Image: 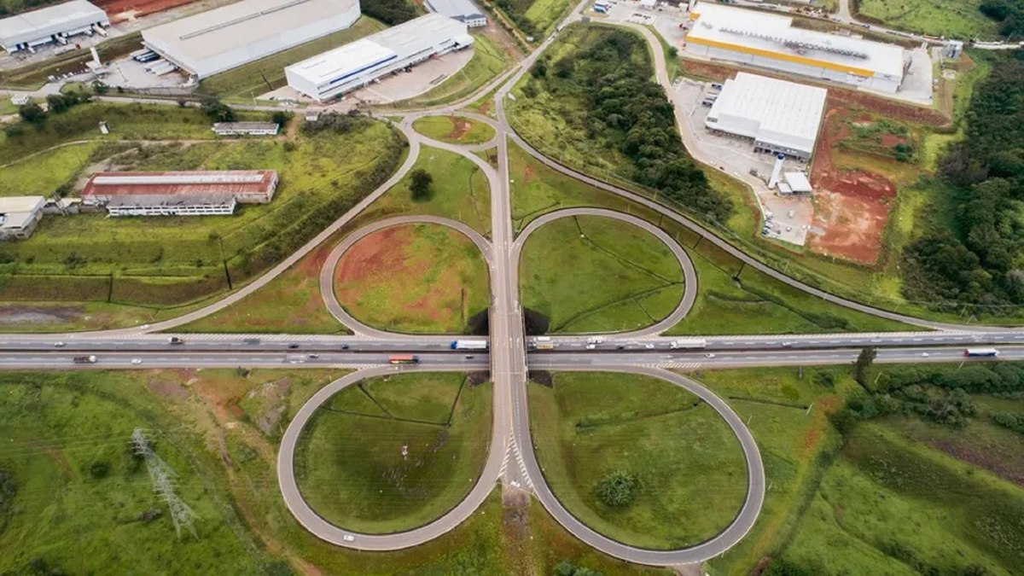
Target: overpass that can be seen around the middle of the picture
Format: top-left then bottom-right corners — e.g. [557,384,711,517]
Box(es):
[489,301,529,384]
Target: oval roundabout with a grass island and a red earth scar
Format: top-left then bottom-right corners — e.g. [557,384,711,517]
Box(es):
[402,111,497,149]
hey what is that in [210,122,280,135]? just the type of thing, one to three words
house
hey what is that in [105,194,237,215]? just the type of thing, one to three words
building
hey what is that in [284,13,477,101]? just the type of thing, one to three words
building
